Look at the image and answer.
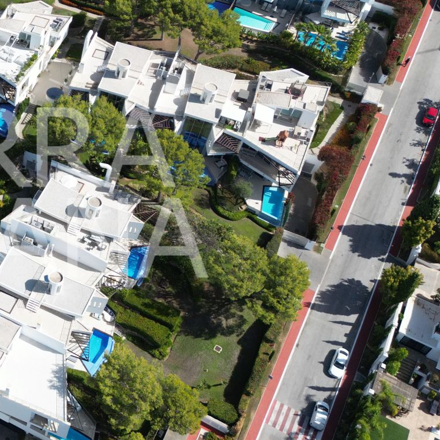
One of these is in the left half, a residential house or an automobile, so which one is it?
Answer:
residential house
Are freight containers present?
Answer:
No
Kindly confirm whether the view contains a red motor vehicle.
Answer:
Yes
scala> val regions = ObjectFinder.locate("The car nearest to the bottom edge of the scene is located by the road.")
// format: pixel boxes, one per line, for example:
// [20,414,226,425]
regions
[305,398,332,434]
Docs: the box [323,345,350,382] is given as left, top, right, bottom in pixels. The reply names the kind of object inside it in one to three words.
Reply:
car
